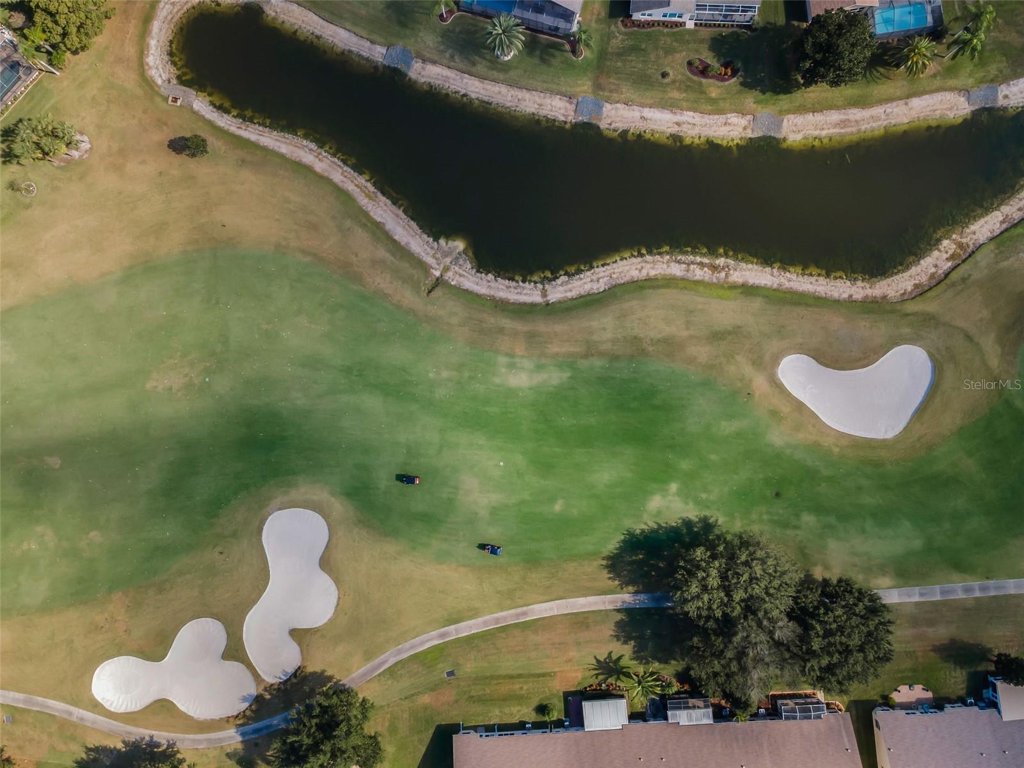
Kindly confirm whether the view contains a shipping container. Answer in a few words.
No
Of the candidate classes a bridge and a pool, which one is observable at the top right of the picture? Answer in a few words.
pool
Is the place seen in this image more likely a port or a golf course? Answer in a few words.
golf course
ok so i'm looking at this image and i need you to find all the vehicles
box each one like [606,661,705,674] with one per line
[483,543,501,556]
[400,475,419,485]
